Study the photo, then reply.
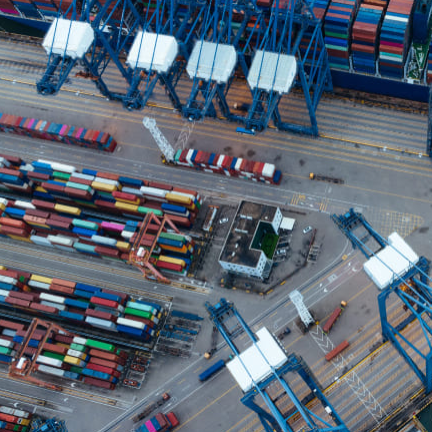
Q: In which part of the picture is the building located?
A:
center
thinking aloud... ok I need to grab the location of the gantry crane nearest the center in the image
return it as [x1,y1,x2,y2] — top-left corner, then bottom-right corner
[127,210,191,280]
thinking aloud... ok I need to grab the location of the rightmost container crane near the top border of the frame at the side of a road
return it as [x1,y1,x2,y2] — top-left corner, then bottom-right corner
[242,0,332,137]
